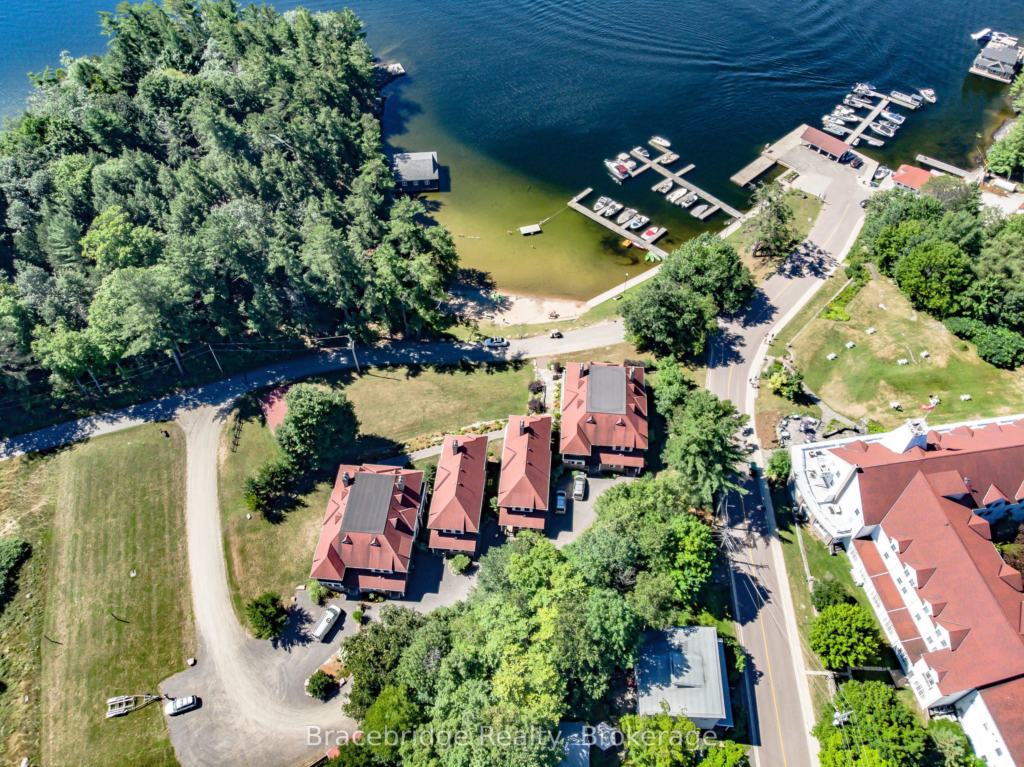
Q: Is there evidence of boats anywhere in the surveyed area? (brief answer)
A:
Yes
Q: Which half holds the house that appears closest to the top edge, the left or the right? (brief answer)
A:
right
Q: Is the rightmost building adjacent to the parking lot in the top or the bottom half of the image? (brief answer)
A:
bottom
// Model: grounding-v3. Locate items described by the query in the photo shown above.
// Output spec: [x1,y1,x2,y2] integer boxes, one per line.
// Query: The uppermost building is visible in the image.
[969,38,1024,83]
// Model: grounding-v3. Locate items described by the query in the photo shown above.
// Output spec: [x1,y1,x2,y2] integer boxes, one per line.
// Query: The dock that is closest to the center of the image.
[567,188,670,259]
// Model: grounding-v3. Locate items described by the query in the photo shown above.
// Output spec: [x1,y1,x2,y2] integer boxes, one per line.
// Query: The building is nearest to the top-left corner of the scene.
[393,152,440,193]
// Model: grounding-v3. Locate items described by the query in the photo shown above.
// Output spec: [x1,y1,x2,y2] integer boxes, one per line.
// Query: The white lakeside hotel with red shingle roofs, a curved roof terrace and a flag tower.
[790,400,1024,767]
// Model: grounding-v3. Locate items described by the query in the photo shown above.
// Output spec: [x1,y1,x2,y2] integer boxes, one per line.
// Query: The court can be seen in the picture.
[259,385,311,438]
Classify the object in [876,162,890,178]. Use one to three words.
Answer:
boat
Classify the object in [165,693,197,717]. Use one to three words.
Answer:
car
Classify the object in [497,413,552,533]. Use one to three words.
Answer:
house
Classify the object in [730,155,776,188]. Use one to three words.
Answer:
pier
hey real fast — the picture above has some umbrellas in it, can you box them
[804,431,818,443]
[798,418,812,431]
